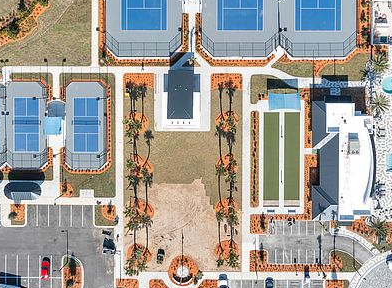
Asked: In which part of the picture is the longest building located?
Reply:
right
